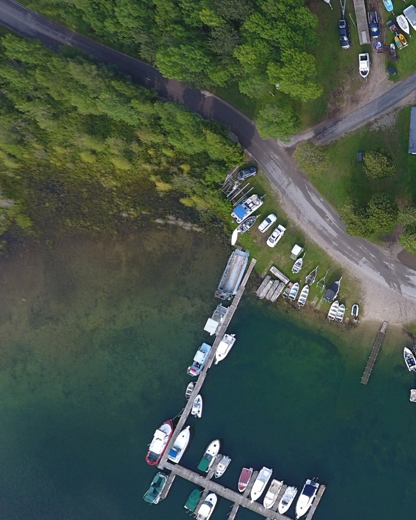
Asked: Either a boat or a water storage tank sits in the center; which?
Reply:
boat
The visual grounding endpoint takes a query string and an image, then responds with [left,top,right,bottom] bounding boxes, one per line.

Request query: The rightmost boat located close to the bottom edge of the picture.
[297,476,322,519]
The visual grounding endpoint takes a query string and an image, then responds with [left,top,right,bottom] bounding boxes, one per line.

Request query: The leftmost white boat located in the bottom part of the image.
[145,422,174,464]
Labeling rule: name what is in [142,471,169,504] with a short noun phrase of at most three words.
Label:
boat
